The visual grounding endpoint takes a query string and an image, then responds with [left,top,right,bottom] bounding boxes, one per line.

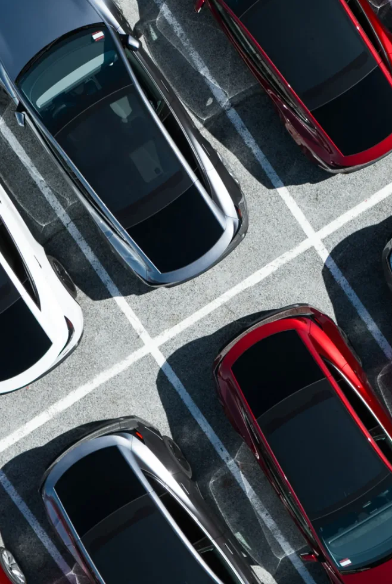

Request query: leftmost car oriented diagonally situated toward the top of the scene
[0,0,252,290]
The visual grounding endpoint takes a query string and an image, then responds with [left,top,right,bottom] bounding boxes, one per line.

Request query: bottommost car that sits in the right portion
[209,303,392,584]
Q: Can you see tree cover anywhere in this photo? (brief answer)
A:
No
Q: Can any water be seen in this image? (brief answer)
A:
No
